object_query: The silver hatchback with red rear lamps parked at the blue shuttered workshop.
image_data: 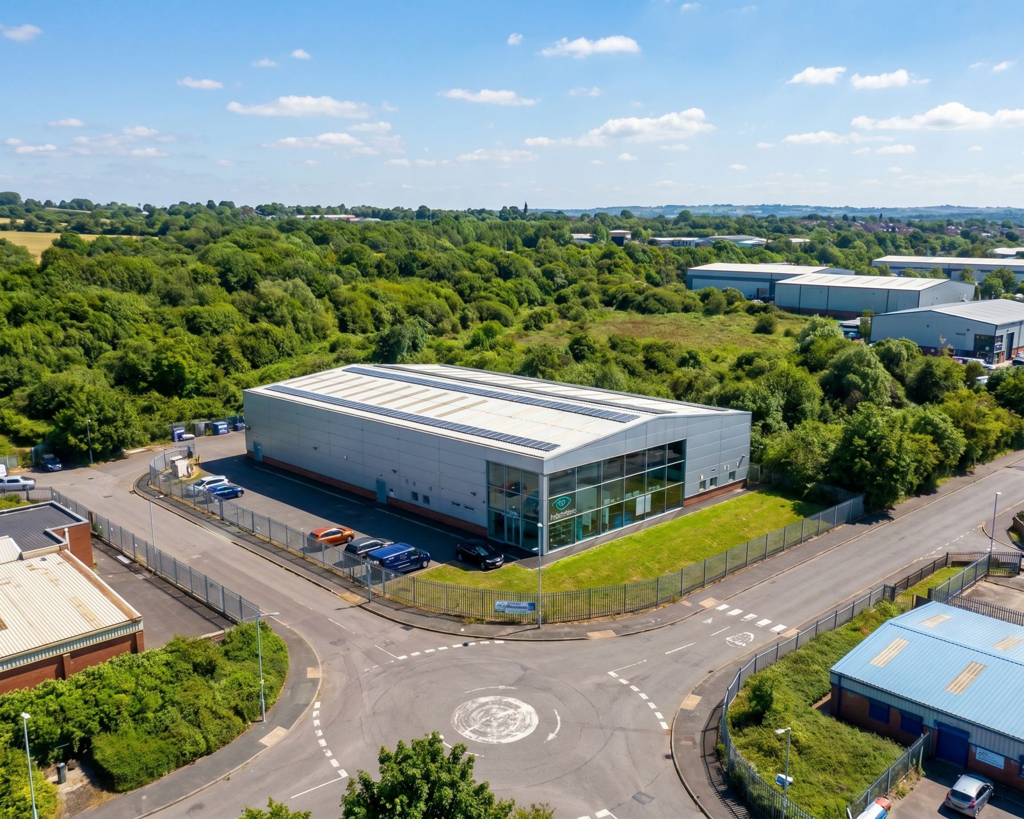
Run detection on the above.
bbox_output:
[934,763,1005,814]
